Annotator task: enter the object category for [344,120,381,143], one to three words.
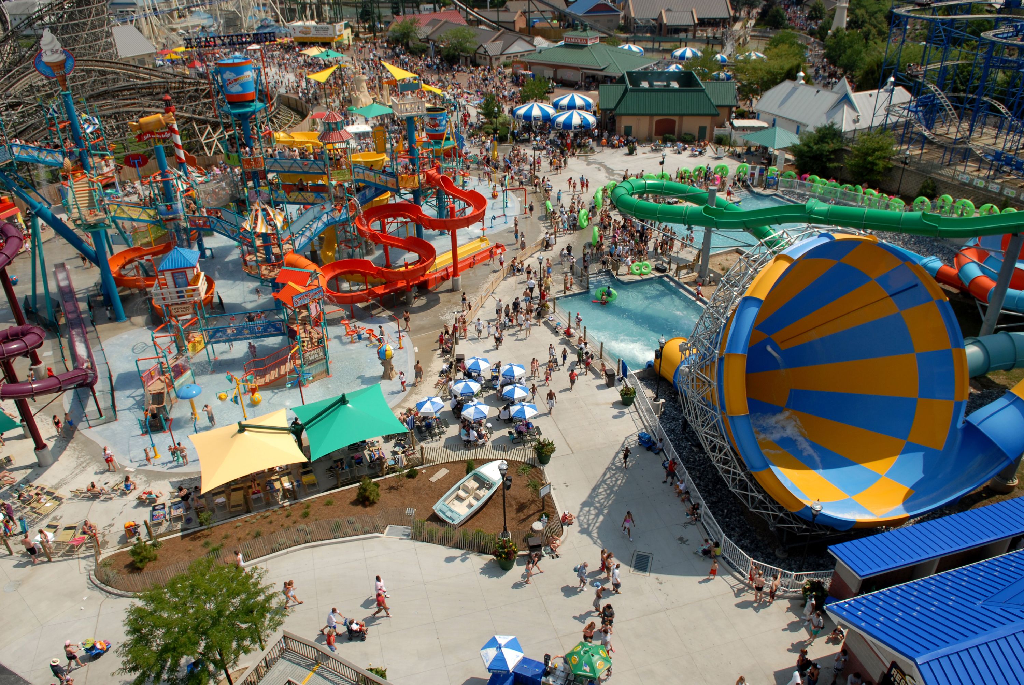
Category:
building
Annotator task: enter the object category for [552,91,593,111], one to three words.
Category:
umbrella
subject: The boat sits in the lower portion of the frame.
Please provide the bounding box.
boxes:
[432,462,509,524]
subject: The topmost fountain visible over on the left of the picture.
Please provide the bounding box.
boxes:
[366,336,398,384]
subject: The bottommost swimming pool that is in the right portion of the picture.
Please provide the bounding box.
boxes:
[560,273,724,368]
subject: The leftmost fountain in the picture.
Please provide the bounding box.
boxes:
[175,385,204,422]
